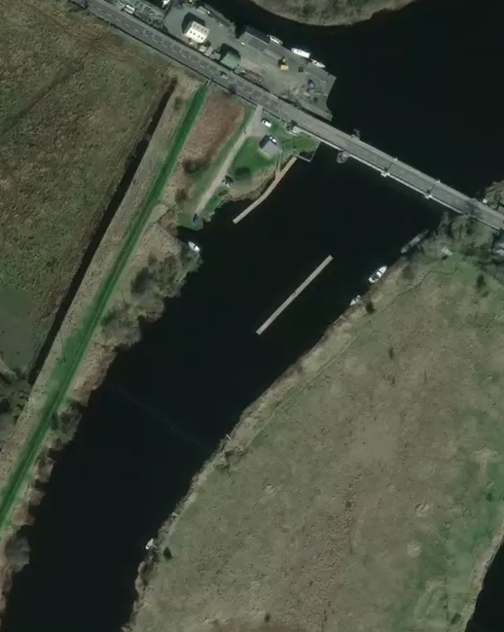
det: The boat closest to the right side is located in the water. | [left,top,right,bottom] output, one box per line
[403,230,428,252]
